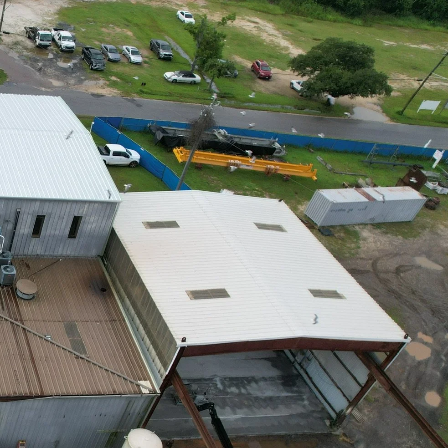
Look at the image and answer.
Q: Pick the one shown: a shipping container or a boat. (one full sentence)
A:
The one in the frame is a shipping container.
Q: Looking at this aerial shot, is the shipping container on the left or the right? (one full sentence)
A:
The shipping container sits on the right side.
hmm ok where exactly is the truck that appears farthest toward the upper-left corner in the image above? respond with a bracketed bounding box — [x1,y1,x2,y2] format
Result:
[28,25,55,47]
